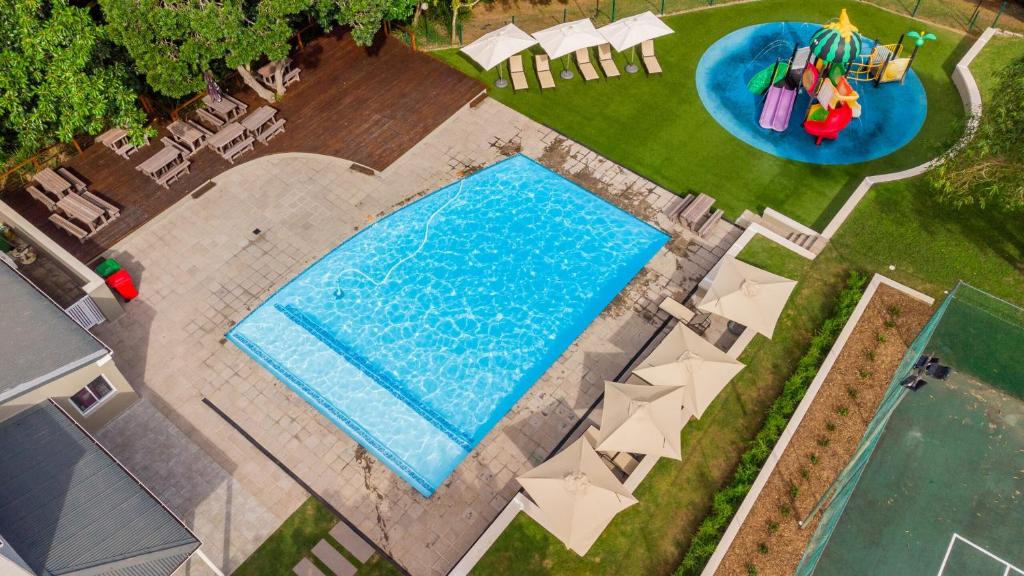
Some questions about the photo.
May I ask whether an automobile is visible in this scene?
No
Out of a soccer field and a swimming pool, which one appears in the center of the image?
swimming pool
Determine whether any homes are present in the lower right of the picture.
No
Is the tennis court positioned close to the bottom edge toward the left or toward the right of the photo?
right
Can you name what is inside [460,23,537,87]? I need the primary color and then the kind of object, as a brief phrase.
white umbrella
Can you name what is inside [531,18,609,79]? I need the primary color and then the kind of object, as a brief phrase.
white umbrella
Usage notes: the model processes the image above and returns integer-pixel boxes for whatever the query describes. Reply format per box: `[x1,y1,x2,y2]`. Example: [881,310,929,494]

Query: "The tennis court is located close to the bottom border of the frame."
[796,358,1024,576]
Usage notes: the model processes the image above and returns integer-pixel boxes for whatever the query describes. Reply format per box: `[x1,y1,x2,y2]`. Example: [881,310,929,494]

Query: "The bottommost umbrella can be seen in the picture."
[516,437,639,557]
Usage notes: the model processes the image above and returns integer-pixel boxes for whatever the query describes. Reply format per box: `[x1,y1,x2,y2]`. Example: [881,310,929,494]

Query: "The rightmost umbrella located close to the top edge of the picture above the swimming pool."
[597,11,674,72]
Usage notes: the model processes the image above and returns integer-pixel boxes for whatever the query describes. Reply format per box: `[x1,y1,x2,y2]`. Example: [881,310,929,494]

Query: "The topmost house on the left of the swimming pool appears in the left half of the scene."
[0,257,140,440]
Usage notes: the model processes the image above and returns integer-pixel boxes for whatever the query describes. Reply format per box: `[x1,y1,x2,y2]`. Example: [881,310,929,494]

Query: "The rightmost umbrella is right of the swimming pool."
[698,257,797,345]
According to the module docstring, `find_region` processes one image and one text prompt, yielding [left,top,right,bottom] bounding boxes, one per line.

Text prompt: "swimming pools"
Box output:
[226,153,668,496]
